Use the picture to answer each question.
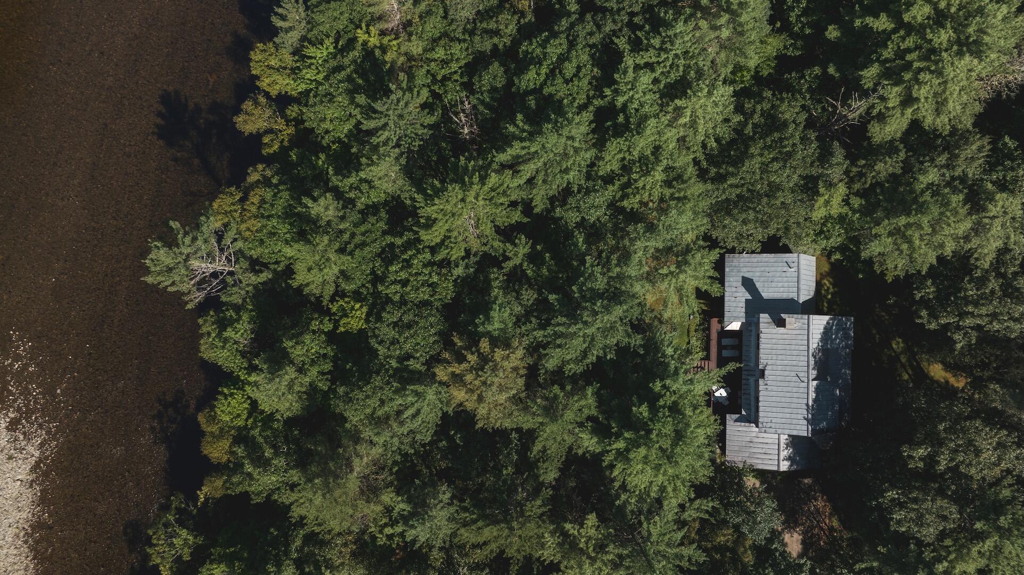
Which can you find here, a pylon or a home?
home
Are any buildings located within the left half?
No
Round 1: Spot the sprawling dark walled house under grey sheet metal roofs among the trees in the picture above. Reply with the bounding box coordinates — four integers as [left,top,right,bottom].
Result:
[716,250,854,470]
